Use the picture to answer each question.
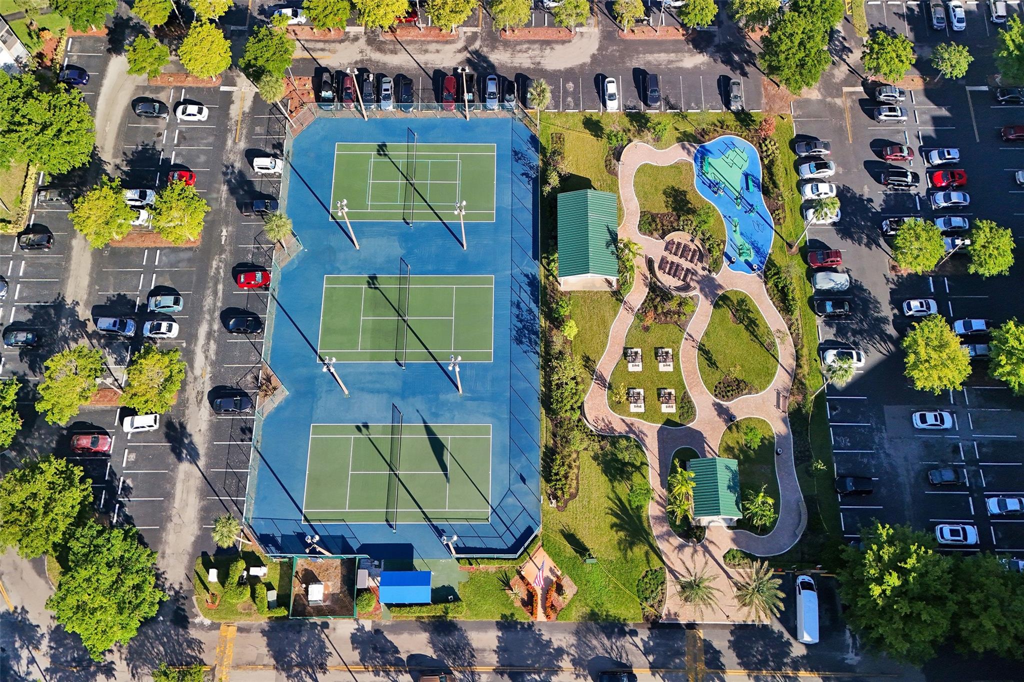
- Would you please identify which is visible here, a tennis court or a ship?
tennis court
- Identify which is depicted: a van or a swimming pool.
van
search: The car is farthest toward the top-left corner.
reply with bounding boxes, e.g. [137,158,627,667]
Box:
[57,68,91,86]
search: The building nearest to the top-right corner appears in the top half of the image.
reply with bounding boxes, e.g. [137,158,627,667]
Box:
[557,189,619,290]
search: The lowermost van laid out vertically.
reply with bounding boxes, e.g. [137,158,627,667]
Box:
[794,579,822,646]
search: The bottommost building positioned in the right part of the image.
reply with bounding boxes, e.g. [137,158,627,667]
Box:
[686,457,742,526]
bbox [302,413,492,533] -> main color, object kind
green tennis court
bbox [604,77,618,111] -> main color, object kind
white car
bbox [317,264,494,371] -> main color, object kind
green tennis court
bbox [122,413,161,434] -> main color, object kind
white car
